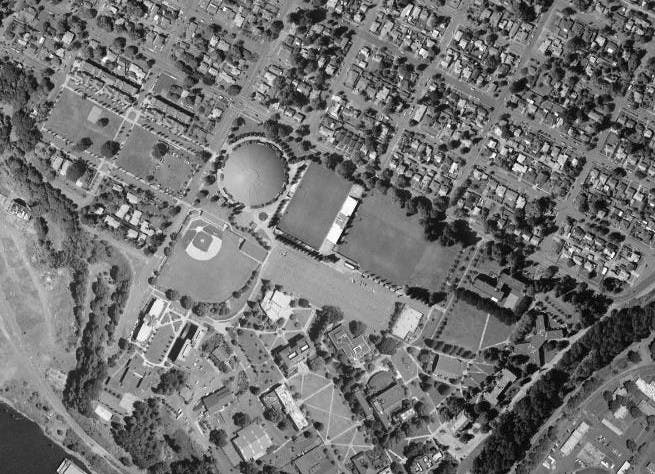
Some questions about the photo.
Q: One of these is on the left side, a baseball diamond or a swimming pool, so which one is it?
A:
baseball diamond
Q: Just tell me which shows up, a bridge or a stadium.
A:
stadium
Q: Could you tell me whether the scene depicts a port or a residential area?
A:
residential area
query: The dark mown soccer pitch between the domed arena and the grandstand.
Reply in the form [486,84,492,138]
[280,164,351,246]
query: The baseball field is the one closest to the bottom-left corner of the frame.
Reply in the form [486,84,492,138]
[154,210,261,303]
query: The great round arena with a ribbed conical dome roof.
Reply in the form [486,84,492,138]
[224,141,288,206]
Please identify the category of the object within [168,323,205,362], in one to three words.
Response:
building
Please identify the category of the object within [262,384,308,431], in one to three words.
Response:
building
